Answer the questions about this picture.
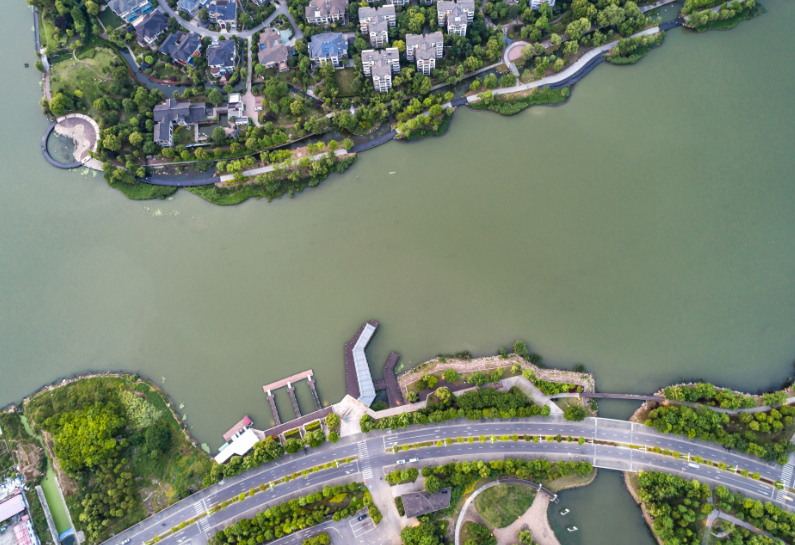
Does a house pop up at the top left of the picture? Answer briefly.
Yes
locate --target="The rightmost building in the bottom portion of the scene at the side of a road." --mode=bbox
[401,485,451,519]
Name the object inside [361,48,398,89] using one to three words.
building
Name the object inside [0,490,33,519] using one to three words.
shed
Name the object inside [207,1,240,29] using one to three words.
house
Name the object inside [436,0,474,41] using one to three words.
building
